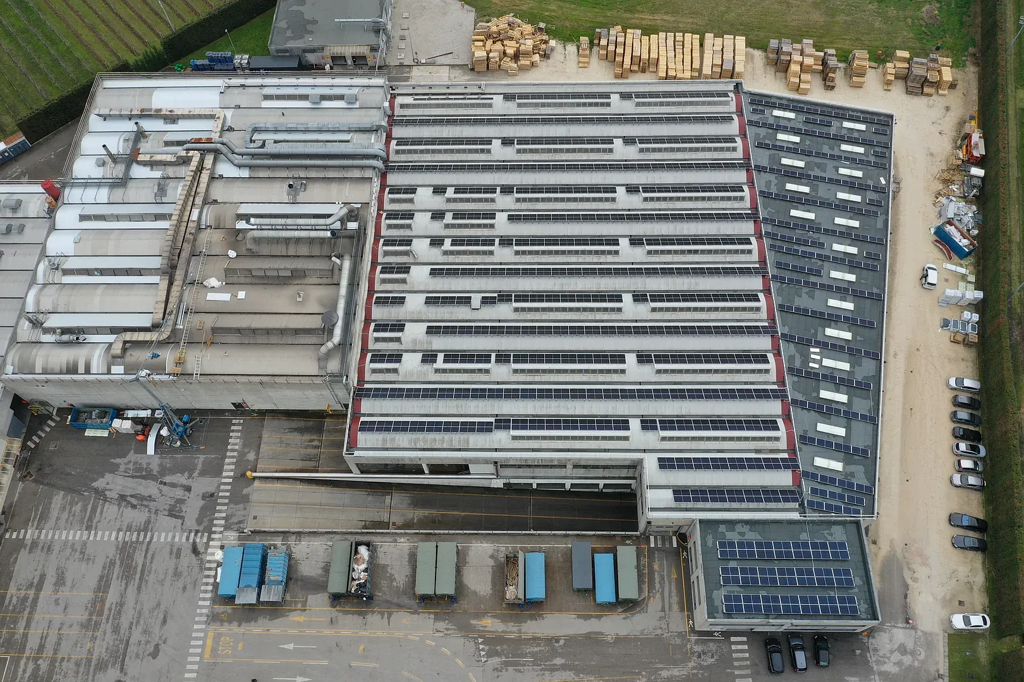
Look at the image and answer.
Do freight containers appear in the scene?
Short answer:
Yes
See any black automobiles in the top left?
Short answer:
No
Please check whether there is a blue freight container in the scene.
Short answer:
Yes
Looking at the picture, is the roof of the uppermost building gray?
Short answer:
Yes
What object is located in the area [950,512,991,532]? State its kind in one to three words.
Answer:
car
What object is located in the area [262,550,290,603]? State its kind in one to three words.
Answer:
shipping container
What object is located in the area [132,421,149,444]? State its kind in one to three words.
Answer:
work vehicle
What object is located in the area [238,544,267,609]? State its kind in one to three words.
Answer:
shipping container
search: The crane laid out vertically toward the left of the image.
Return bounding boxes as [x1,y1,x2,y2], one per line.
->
[121,264,200,446]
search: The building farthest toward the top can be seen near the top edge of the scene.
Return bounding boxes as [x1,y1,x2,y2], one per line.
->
[268,0,392,61]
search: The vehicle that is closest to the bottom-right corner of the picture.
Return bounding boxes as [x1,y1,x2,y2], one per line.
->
[951,611,993,630]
